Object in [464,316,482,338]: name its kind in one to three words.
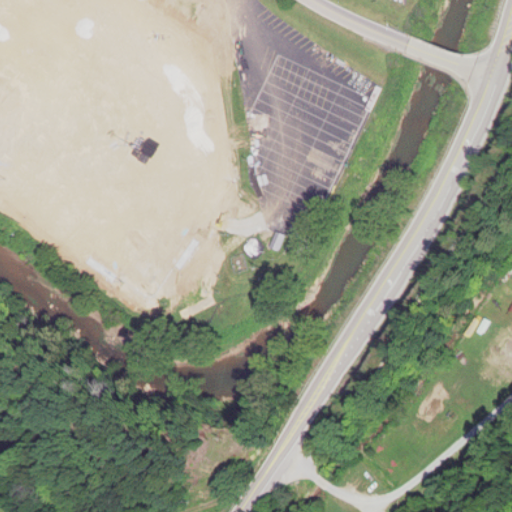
vehicle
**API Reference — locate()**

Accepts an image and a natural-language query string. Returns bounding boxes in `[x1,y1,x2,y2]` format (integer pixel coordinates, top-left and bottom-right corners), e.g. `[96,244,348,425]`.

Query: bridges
[406,38,477,86]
